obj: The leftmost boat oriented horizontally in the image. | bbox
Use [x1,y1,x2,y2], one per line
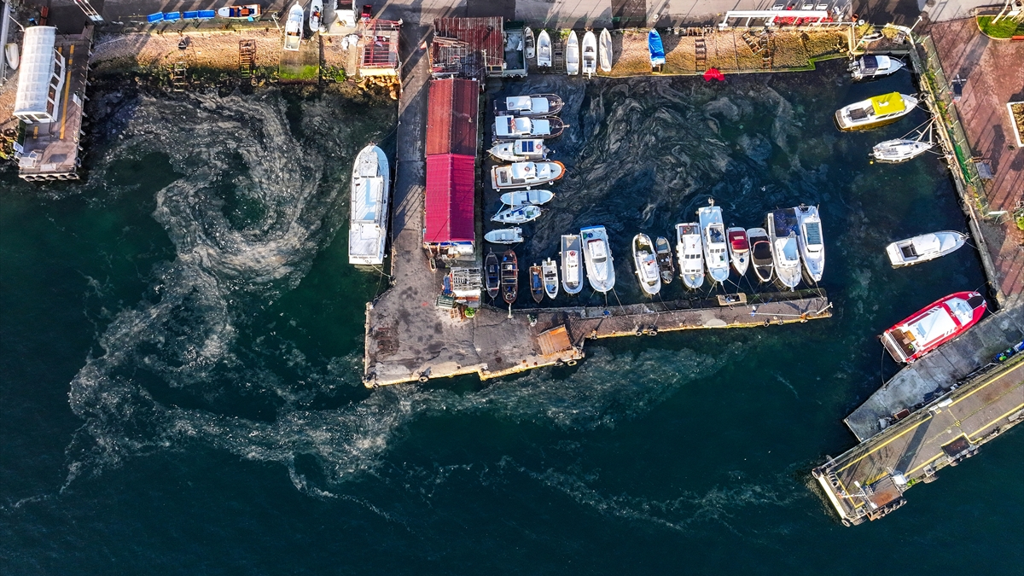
[218,4,261,20]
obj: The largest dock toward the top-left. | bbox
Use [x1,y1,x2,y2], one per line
[18,31,96,183]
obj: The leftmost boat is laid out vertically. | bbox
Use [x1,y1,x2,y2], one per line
[5,41,19,72]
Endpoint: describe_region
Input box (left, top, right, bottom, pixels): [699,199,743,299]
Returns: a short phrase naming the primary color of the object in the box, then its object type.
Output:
white boat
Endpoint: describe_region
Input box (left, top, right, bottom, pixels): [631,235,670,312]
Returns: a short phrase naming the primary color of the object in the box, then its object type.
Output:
white boat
